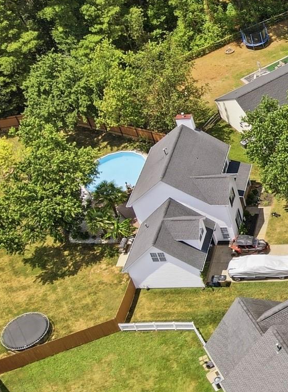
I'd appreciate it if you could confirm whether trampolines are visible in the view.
Yes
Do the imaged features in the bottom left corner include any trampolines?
Yes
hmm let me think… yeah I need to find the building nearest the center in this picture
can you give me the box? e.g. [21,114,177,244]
[120,118,257,287]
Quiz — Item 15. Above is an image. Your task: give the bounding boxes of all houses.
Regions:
[120,118,257,287]
[214,64,288,146]
[199,295,288,392]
